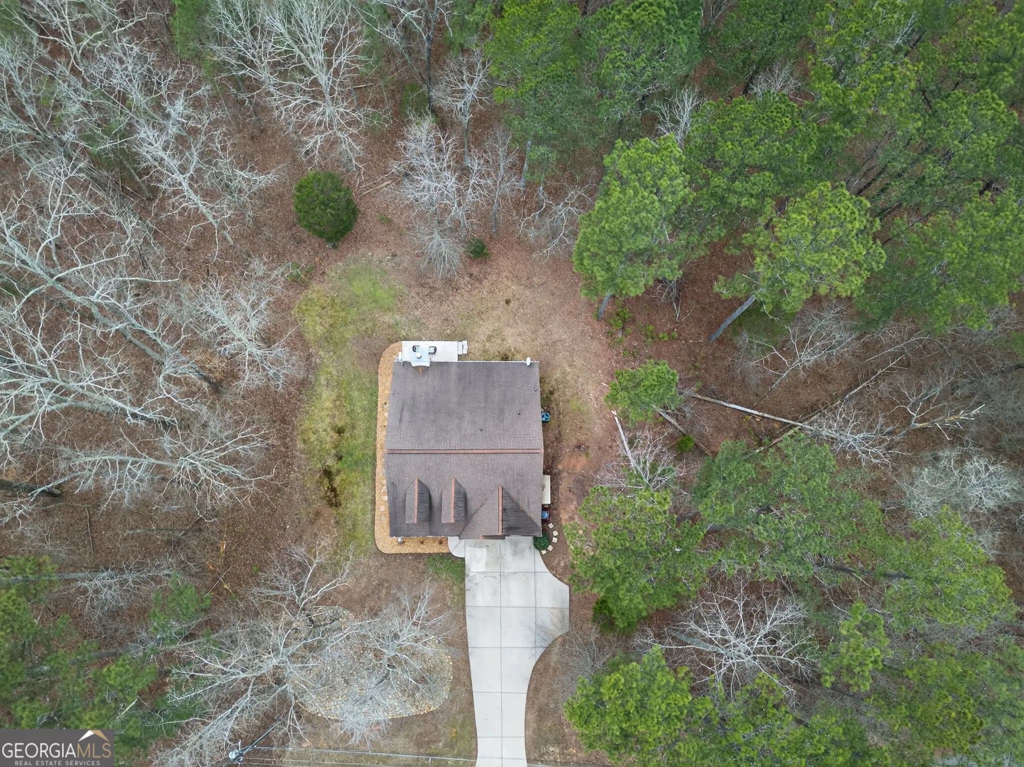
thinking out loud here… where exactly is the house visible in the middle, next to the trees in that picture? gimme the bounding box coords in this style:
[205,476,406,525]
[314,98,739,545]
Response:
[386,351,543,540]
